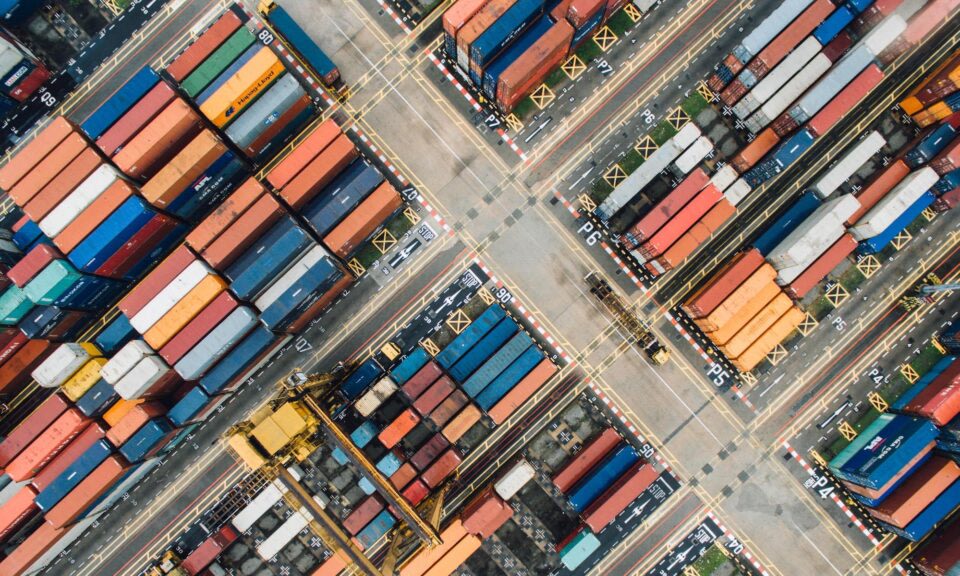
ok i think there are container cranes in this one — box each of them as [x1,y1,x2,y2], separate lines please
[213,361,453,576]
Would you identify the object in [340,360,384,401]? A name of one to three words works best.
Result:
shipping container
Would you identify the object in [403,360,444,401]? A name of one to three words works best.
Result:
shipping container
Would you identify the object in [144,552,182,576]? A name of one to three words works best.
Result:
truck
